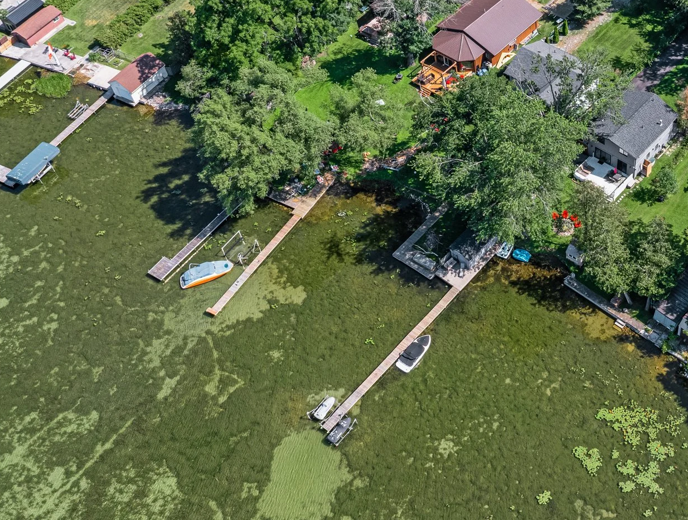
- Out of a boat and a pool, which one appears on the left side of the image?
boat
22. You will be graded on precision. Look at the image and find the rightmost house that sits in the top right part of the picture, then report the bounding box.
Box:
[589,92,678,175]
